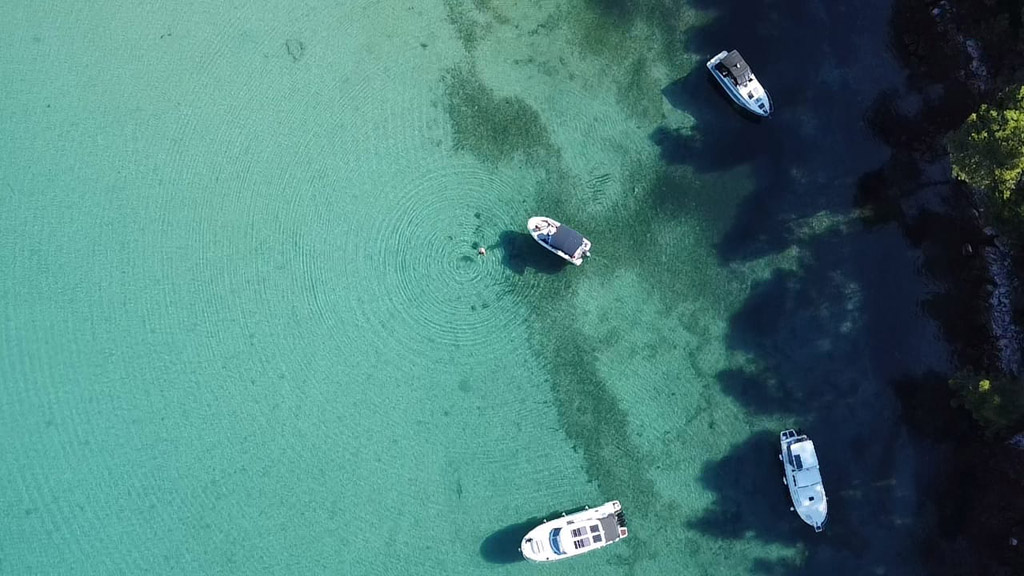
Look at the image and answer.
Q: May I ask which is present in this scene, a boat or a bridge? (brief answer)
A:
boat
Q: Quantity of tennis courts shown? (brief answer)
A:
none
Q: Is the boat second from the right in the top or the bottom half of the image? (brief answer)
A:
top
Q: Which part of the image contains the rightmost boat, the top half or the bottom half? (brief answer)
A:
bottom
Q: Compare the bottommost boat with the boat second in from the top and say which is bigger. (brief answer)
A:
the bottommost boat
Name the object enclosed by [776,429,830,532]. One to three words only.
boat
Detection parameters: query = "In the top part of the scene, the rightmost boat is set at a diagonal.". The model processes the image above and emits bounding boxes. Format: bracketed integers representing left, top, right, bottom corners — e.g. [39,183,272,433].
[707,51,771,117]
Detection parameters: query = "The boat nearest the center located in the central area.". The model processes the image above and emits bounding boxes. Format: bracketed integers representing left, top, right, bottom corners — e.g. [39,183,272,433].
[528,217,590,262]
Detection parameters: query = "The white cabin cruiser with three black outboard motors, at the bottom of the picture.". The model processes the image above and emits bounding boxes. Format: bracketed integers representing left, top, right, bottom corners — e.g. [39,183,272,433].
[518,501,629,561]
